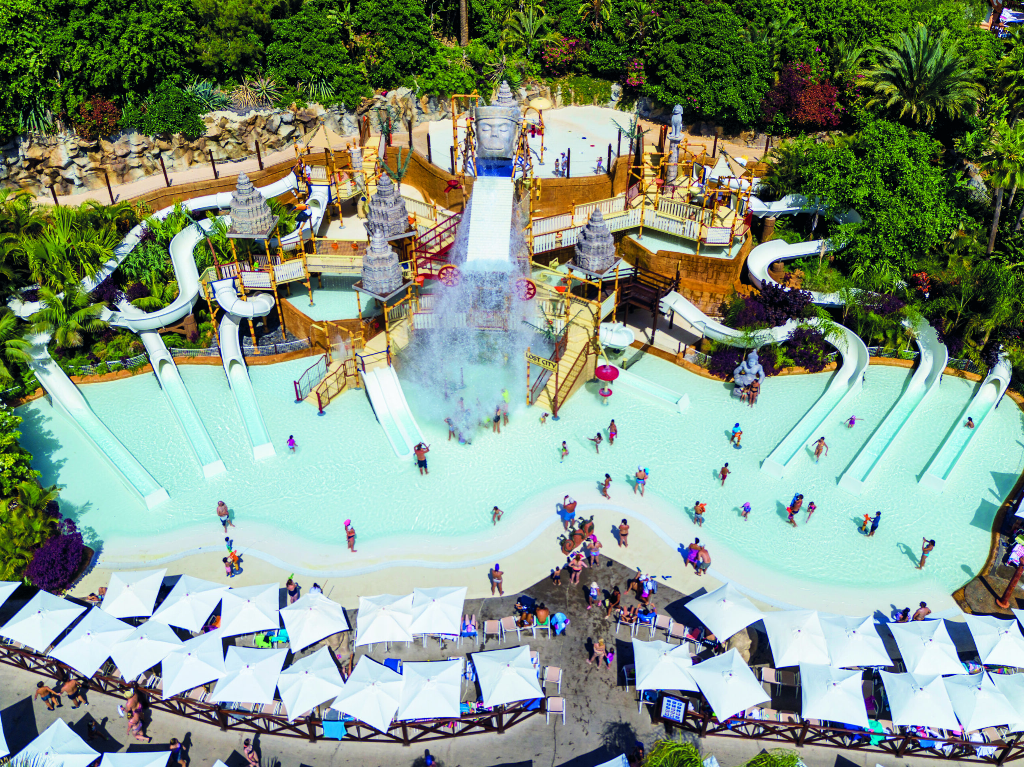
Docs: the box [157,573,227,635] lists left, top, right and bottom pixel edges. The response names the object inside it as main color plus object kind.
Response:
white umbrella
